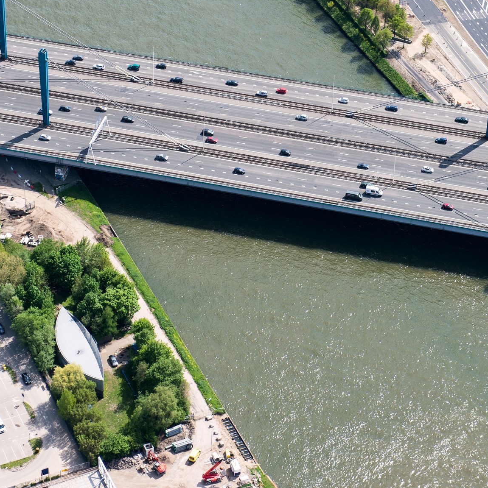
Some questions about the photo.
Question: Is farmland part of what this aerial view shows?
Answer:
No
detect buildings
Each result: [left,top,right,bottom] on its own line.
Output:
[55,307,104,397]
[30,456,115,488]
